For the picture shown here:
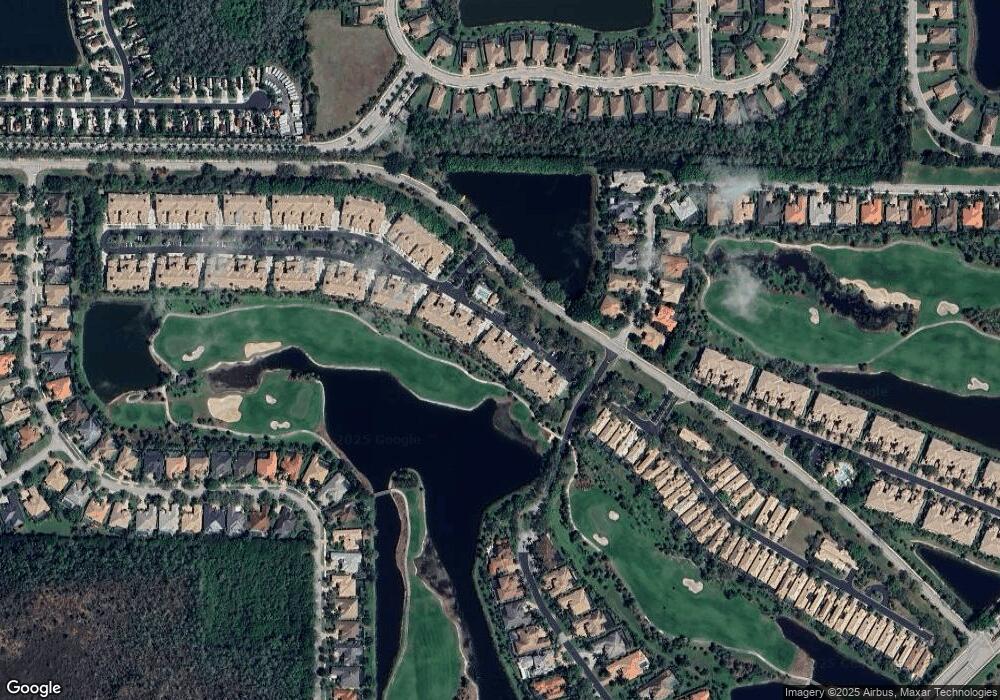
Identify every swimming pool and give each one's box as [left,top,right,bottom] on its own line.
[473,285,493,306]
[831,462,854,484]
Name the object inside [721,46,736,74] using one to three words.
house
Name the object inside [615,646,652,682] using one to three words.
house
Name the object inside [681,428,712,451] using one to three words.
building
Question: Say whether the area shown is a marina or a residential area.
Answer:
residential area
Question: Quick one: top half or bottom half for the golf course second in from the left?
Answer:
bottom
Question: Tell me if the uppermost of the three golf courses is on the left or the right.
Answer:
right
